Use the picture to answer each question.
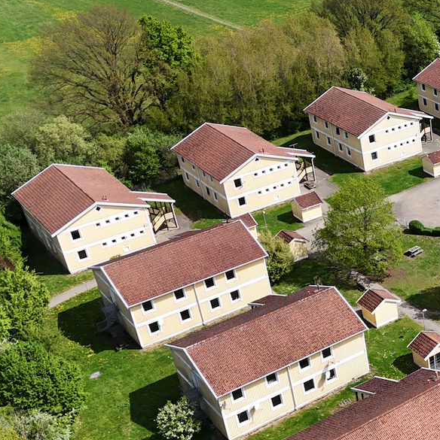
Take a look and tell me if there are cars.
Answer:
No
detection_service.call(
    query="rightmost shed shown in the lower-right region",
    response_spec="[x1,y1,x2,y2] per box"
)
[407,326,440,368]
